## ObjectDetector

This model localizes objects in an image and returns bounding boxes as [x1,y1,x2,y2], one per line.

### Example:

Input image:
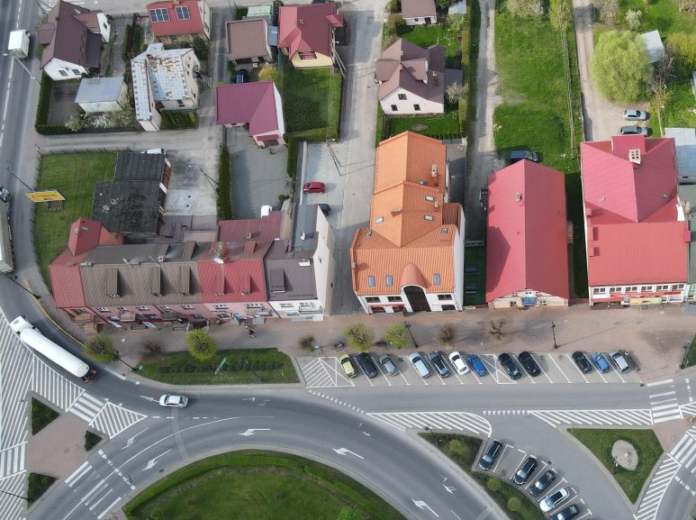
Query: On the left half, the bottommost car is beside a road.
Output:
[159,393,188,407]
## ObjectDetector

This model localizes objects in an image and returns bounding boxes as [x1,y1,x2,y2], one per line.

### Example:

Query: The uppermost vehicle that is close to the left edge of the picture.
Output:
[8,29,33,69]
